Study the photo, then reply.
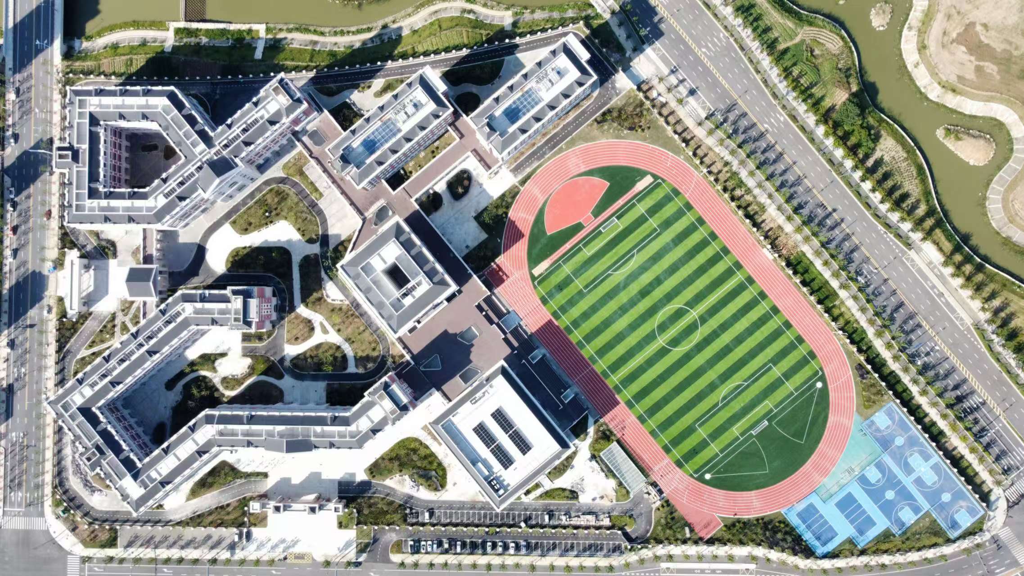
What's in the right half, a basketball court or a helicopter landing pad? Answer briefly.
basketball court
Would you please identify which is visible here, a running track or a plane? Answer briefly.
running track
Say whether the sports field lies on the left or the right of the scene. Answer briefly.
right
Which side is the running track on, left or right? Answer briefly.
right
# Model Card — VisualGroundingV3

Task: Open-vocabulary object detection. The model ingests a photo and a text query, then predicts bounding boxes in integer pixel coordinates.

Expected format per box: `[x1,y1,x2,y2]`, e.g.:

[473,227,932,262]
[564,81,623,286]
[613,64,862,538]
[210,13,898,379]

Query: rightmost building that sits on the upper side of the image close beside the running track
[468,32,598,167]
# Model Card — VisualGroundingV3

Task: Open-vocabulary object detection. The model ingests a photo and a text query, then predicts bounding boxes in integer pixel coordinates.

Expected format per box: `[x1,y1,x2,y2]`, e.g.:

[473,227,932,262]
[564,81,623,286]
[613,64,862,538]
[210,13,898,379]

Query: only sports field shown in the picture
[529,165,827,490]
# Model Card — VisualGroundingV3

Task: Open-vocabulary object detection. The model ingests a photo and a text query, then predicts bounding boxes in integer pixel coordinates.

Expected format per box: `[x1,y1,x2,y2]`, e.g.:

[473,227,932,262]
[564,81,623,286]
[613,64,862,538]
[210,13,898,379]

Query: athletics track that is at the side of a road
[502,139,854,539]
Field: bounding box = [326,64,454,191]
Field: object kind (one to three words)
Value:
building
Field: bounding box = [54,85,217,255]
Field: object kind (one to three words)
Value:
building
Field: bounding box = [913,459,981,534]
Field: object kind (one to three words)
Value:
basketball court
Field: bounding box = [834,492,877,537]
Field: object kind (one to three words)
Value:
sports court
